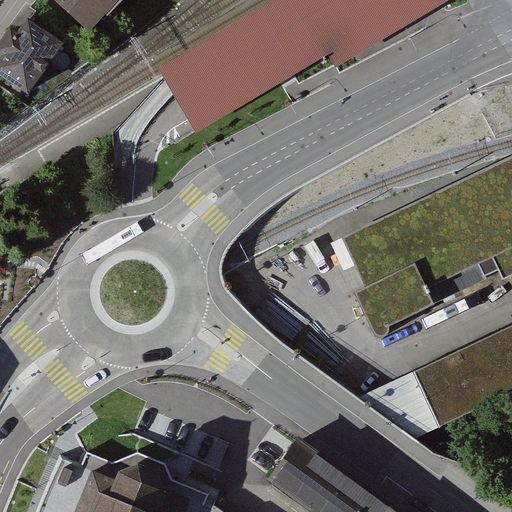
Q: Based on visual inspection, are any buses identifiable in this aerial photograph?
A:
Yes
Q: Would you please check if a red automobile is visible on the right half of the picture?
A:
No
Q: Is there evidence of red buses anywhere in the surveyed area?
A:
No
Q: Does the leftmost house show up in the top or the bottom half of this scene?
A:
top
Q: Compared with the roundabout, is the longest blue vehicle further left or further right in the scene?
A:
right of it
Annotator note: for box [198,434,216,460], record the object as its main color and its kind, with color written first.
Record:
black car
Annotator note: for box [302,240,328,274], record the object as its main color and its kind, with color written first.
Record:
white truck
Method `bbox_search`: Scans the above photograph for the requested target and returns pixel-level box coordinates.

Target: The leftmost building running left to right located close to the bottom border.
[74,452,210,512]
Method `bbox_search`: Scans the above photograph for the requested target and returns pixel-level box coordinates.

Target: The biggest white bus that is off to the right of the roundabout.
[420,296,474,329]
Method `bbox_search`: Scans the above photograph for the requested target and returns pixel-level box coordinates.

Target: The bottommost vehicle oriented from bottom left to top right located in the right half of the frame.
[359,370,380,392]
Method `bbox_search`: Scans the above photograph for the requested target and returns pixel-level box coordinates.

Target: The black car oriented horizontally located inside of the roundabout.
[144,348,170,360]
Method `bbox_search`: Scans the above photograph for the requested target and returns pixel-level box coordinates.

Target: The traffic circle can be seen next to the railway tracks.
[0,166,256,432]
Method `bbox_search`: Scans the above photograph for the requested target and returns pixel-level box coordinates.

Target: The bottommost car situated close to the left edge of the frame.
[0,415,20,440]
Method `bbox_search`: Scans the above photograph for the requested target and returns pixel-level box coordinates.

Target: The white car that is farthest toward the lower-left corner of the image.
[82,368,106,388]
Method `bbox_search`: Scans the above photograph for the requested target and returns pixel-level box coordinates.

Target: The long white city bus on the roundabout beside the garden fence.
[80,220,146,268]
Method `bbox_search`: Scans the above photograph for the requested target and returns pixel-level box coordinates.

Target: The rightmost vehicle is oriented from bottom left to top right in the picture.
[488,286,508,302]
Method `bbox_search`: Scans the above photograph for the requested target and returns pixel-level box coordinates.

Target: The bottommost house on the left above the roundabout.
[0,18,62,94]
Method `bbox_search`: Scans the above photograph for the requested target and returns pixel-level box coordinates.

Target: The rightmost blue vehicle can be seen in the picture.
[381,323,420,348]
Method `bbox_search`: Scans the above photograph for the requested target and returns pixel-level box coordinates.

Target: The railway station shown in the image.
[158,0,450,134]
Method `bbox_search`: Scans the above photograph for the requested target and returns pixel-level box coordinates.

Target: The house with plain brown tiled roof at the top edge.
[57,0,121,31]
